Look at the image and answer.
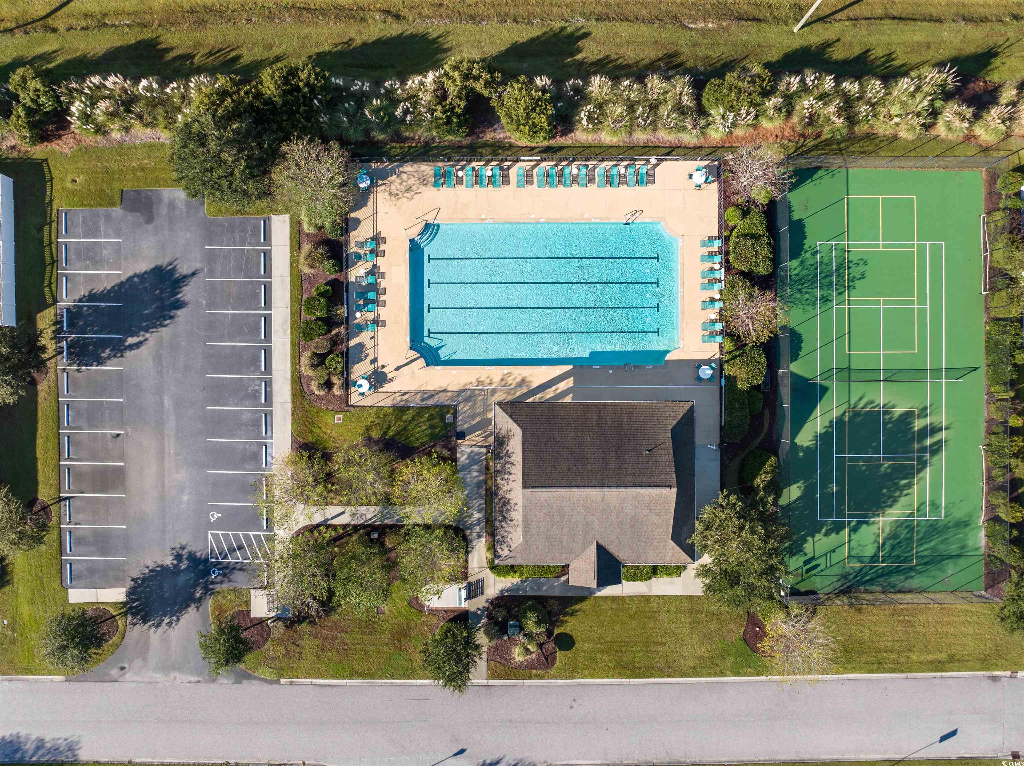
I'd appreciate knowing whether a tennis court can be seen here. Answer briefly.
Yes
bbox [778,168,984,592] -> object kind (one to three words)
tennis court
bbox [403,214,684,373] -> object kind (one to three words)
swimming pool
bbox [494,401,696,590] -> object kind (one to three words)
building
